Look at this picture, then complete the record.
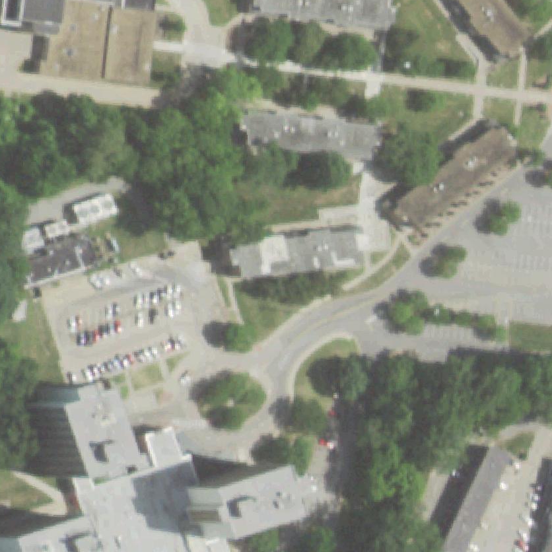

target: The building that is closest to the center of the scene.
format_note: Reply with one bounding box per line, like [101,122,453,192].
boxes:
[224,228,364,278]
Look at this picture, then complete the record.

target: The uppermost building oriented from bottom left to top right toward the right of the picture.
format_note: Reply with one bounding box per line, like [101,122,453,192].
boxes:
[388,126,517,224]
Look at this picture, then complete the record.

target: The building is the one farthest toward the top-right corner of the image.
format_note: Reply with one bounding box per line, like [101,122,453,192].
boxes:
[447,0,533,58]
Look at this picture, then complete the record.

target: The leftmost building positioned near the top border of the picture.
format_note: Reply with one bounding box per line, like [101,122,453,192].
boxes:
[0,0,156,86]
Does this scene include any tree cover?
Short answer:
Yes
